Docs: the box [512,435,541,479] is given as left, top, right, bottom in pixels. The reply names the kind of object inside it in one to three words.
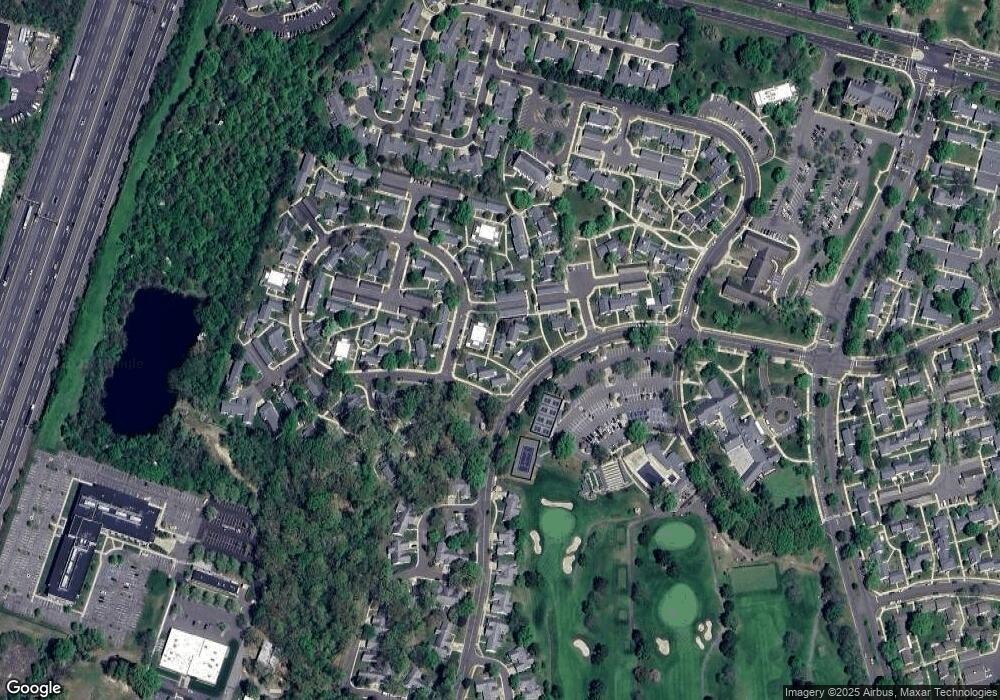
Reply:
tennis court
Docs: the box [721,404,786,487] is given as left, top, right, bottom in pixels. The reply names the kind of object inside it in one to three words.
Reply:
building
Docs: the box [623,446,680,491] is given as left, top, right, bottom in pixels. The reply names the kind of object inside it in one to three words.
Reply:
swimming pool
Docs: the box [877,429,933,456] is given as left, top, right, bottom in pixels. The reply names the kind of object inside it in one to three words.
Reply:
house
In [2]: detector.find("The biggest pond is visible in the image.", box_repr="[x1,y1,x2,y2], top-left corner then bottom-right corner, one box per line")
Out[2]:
[103,287,203,435]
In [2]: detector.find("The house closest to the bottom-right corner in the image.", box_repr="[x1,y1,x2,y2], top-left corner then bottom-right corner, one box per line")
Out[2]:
[962,665,990,686]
